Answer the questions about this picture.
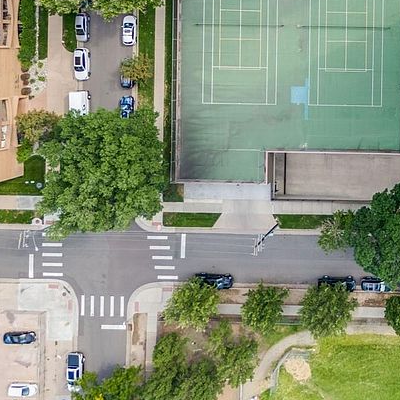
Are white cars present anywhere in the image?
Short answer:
Yes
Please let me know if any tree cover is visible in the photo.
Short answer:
Yes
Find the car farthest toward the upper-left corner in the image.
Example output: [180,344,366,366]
[74,12,93,43]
